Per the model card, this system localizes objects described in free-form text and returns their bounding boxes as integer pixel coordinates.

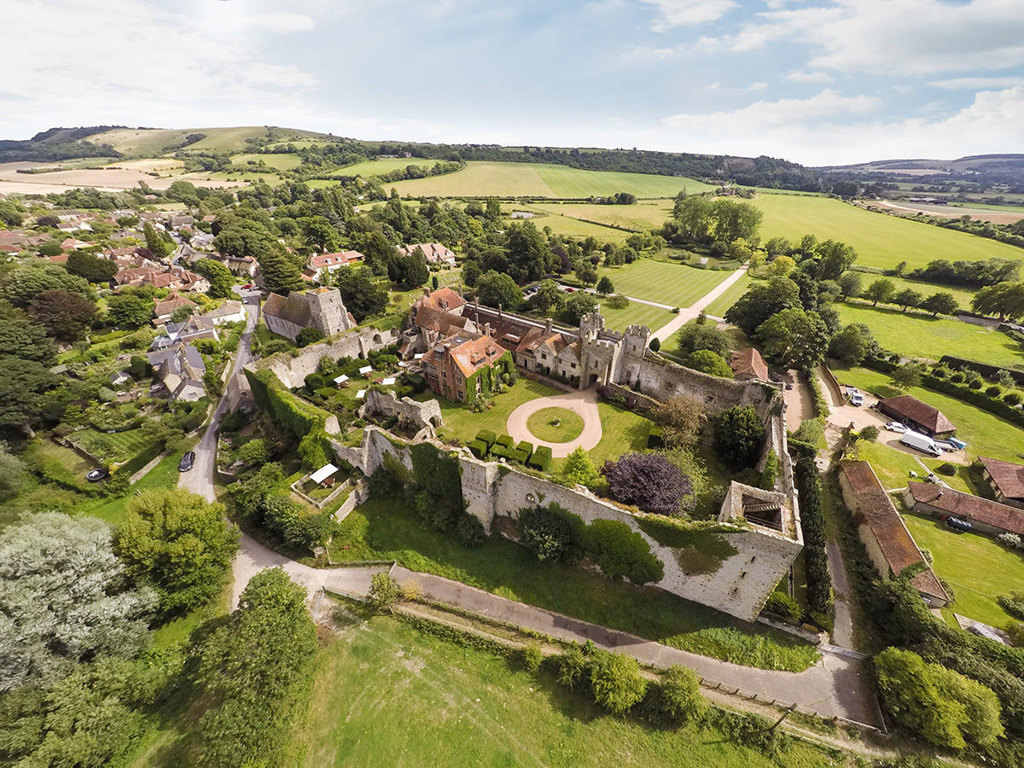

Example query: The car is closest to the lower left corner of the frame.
[178,451,193,467]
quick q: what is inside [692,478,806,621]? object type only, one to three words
building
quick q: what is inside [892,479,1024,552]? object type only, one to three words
barn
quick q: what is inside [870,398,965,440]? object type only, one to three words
shed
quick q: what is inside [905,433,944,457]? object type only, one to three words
vehicle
